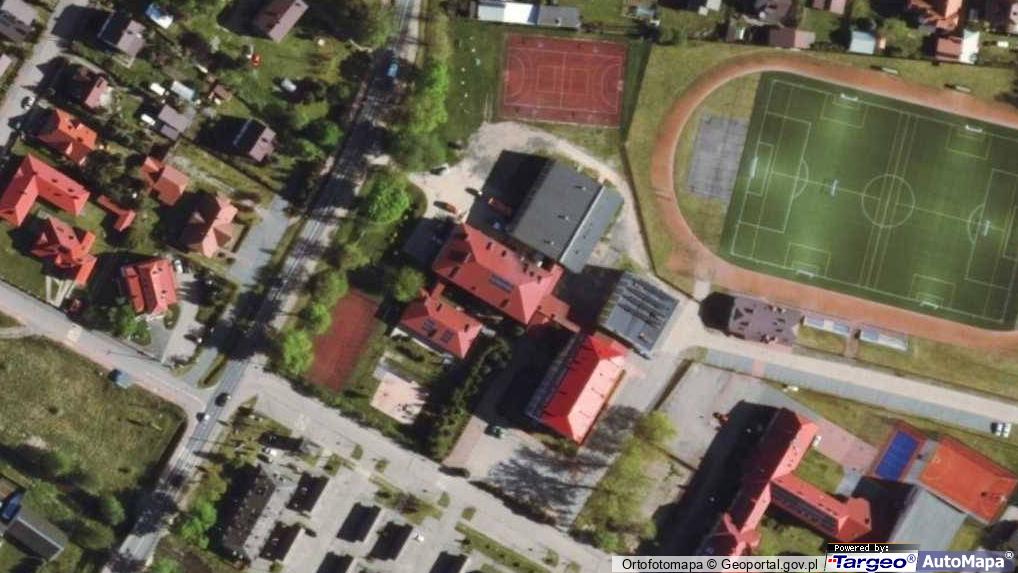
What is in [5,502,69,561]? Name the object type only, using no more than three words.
house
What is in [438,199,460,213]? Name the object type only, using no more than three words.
vehicle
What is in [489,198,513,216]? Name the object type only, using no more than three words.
vehicle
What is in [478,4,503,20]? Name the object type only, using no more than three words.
shed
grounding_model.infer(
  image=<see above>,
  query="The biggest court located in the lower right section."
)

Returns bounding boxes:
[920,437,1017,524]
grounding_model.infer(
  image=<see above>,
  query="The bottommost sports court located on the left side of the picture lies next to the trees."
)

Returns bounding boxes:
[306,287,379,391]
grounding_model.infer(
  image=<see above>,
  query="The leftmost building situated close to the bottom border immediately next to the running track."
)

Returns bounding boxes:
[673,408,871,573]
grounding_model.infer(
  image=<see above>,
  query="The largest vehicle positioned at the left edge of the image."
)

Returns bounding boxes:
[2,492,23,518]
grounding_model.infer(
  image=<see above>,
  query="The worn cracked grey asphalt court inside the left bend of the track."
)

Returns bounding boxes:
[687,115,750,198]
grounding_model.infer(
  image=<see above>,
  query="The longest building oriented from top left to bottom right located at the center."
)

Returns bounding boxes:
[432,223,581,333]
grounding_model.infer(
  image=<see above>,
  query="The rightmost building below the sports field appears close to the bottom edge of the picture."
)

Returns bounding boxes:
[879,487,967,573]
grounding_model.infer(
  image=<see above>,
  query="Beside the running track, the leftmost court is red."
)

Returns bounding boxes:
[498,34,628,127]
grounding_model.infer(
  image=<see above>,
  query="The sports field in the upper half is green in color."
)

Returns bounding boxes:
[726,70,1018,334]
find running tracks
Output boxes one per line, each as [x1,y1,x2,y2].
[646,48,1018,364]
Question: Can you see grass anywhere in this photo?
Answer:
Yes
